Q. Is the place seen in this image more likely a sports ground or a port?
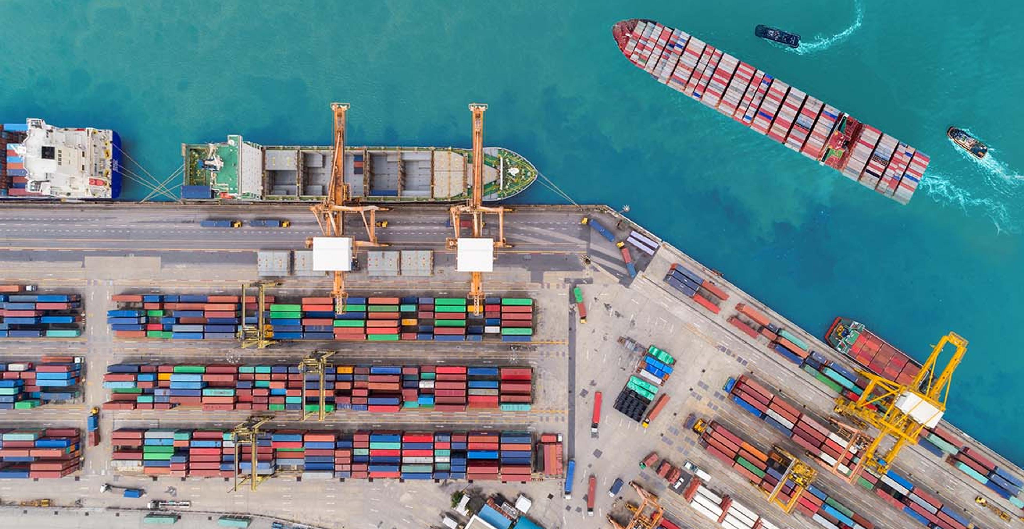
port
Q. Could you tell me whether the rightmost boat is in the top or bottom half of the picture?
top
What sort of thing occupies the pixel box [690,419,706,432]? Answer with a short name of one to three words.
vehicle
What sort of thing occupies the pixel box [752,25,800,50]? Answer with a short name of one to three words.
boat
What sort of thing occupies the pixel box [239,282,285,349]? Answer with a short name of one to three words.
container crane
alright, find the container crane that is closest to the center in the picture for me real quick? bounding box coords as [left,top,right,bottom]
[446,101,513,319]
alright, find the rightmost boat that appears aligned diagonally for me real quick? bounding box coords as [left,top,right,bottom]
[942,127,987,161]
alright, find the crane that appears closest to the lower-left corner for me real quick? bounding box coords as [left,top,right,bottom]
[231,416,278,494]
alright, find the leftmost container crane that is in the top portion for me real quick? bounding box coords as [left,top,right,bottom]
[304,100,392,320]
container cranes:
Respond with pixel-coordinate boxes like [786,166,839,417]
[446,101,513,319]
[827,329,971,469]
[239,282,285,349]
[304,100,392,320]
[801,412,882,484]
[741,439,822,515]
[601,476,669,529]
[231,416,278,494]
[299,351,341,422]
